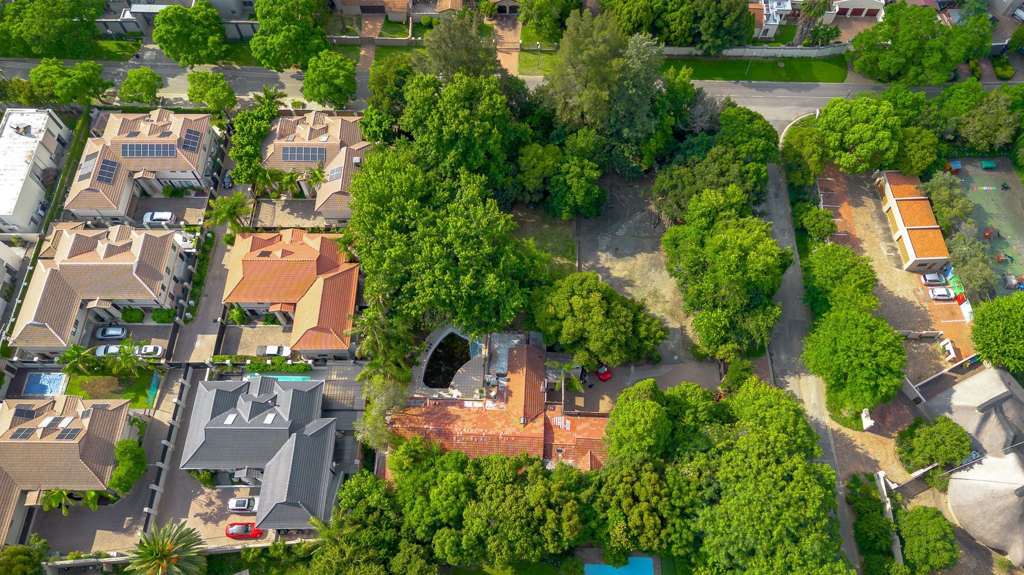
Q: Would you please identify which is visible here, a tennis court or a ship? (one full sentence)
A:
I can see a tennis court in this picture.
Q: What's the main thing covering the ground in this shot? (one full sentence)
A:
Most of the picture is covered by trees.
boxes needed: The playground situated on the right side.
[939,156,1024,308]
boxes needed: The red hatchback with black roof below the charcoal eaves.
[224,520,265,539]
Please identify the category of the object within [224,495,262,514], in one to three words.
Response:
car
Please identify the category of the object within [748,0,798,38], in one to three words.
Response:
house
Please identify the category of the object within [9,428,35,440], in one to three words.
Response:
solar panel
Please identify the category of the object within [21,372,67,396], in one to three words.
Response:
swimming pool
